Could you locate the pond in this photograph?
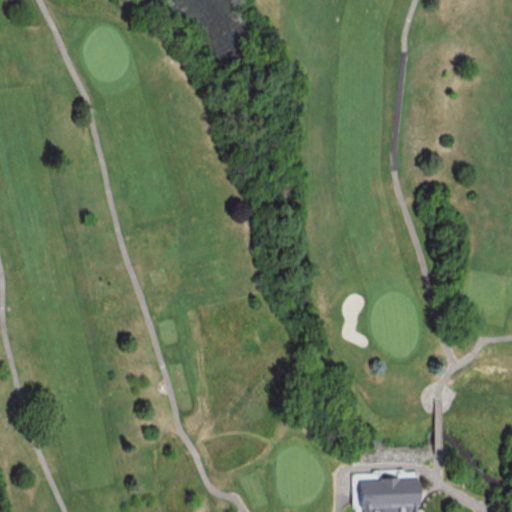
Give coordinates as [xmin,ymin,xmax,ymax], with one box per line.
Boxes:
[174,0,238,58]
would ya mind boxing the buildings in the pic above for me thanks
[351,468,421,512]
